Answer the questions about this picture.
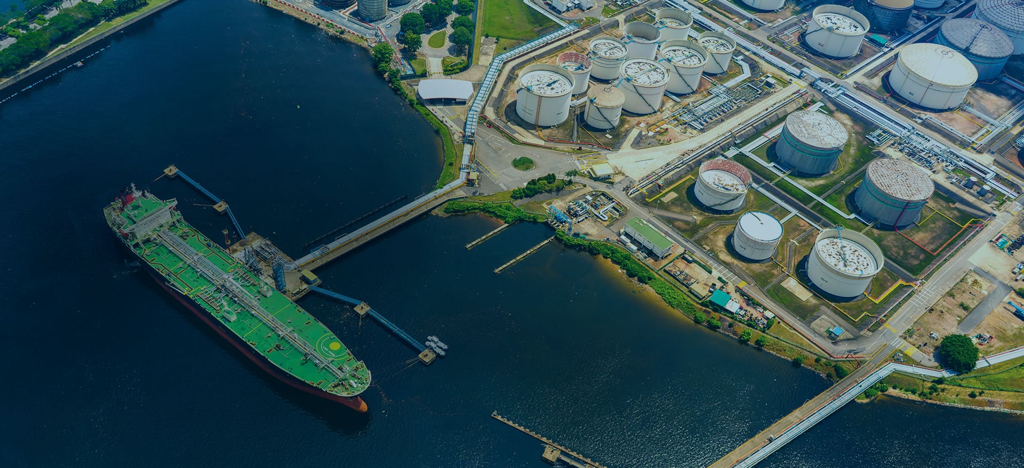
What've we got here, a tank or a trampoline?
tank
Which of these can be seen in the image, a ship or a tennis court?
ship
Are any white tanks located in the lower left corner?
No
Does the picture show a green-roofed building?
Yes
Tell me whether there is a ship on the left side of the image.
Yes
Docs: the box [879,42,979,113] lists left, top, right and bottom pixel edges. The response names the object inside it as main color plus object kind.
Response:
white storage tank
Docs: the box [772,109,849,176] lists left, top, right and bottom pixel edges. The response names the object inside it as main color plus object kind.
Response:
white storage tank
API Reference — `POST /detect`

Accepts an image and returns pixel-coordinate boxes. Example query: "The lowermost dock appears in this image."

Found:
[492,409,611,468]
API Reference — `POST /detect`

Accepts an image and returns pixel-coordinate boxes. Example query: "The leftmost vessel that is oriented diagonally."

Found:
[97,184,369,411]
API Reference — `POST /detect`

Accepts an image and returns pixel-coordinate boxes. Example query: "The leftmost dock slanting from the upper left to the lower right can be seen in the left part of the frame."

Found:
[227,232,323,302]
